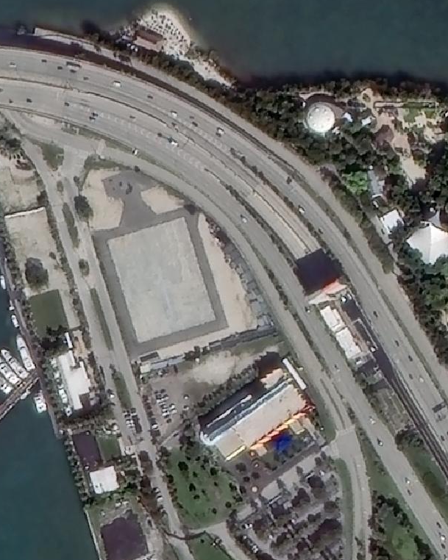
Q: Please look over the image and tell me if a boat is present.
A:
Yes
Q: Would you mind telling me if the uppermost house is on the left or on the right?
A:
left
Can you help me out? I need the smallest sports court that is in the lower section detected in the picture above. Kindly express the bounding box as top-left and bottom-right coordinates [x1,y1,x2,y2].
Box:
[98,436,122,462]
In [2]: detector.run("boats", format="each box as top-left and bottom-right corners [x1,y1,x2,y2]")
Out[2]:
[35,391,45,413]
[1,276,7,290]
[3,350,28,381]
[18,335,34,371]
[0,376,13,396]
[11,315,19,328]
[0,358,22,386]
